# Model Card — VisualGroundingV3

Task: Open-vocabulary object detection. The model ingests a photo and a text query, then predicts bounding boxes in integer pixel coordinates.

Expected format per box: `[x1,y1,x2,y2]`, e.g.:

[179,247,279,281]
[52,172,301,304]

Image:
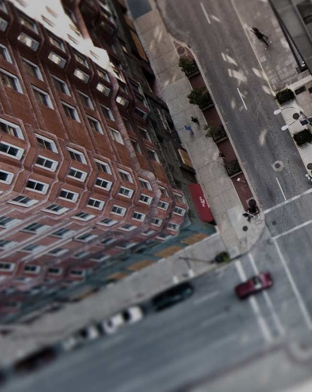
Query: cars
[100,305,143,336]
[13,345,55,375]
[149,281,195,312]
[60,325,99,354]
[234,271,275,301]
